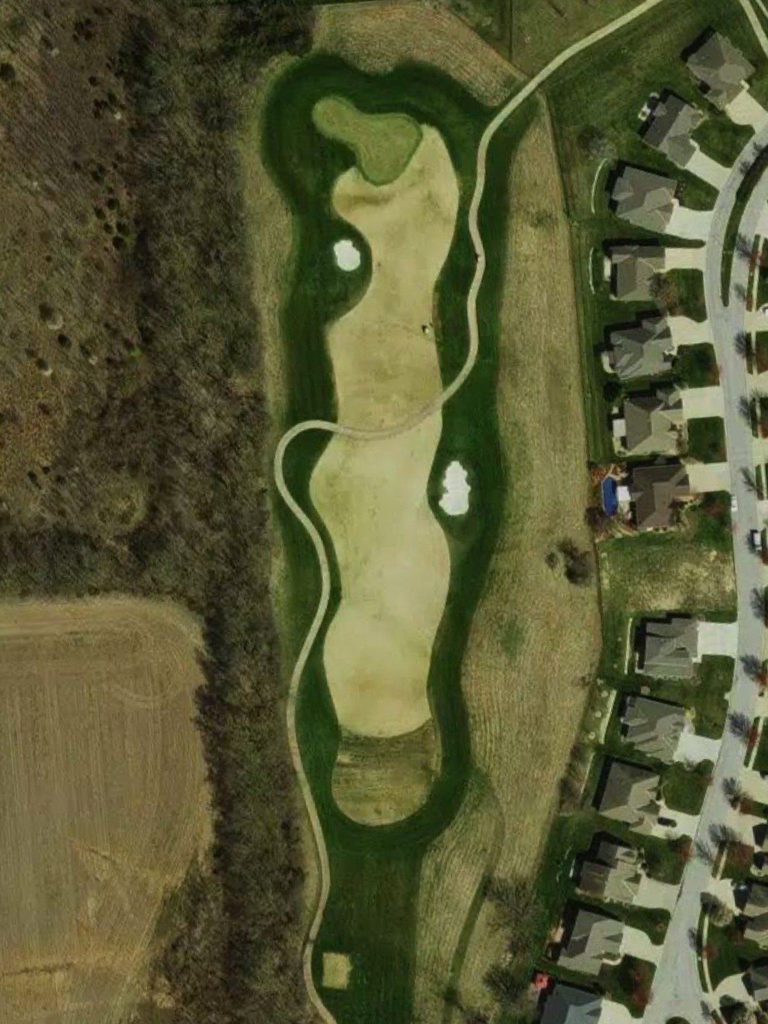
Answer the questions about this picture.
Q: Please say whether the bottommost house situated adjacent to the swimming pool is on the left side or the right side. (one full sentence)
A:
The bottommost house situated adjacent to the swimming pool sits on the right side.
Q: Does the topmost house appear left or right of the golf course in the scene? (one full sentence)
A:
You can see the topmost house positioned to the right of the golf course.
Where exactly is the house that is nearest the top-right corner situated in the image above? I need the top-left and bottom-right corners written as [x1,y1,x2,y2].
[685,32,750,111]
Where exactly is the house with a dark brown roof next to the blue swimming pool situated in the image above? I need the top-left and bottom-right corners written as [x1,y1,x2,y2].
[632,464,690,529]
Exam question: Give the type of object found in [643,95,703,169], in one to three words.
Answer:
house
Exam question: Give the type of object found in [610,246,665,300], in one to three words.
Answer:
house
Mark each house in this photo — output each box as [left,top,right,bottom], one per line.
[578,839,641,905]
[632,464,690,529]
[610,246,665,300]
[610,167,677,235]
[611,316,673,379]
[545,984,607,1024]
[559,907,624,974]
[685,32,750,111]
[622,697,684,763]
[643,95,703,169]
[644,618,698,678]
[746,951,768,1008]
[624,387,684,452]
[600,762,662,835]
[744,882,768,945]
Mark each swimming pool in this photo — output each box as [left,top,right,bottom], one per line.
[602,477,618,517]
